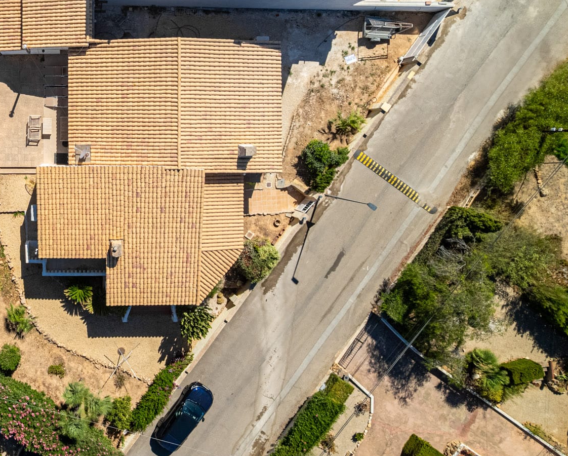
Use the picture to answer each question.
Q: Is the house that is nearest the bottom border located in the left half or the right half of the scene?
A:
left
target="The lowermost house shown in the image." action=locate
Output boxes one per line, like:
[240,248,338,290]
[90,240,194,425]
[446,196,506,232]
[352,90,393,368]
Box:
[24,37,285,324]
